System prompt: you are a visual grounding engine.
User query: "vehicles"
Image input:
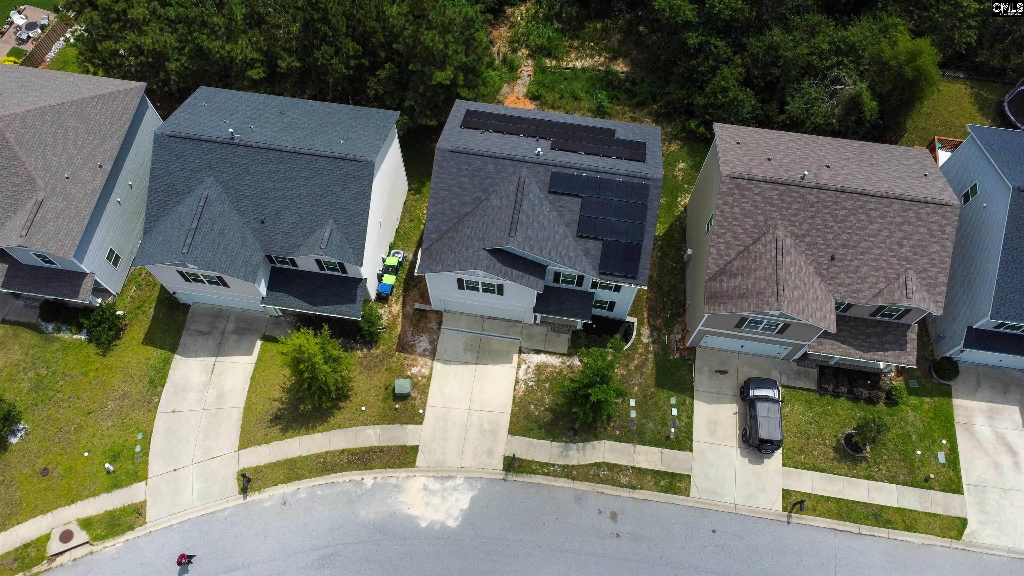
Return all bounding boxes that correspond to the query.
[740,377,784,452]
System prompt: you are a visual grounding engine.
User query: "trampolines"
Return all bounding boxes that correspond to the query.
[999,73,1024,130]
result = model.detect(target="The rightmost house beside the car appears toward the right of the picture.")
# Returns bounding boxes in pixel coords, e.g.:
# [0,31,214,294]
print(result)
[683,122,960,374]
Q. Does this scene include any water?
No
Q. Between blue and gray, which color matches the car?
gray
